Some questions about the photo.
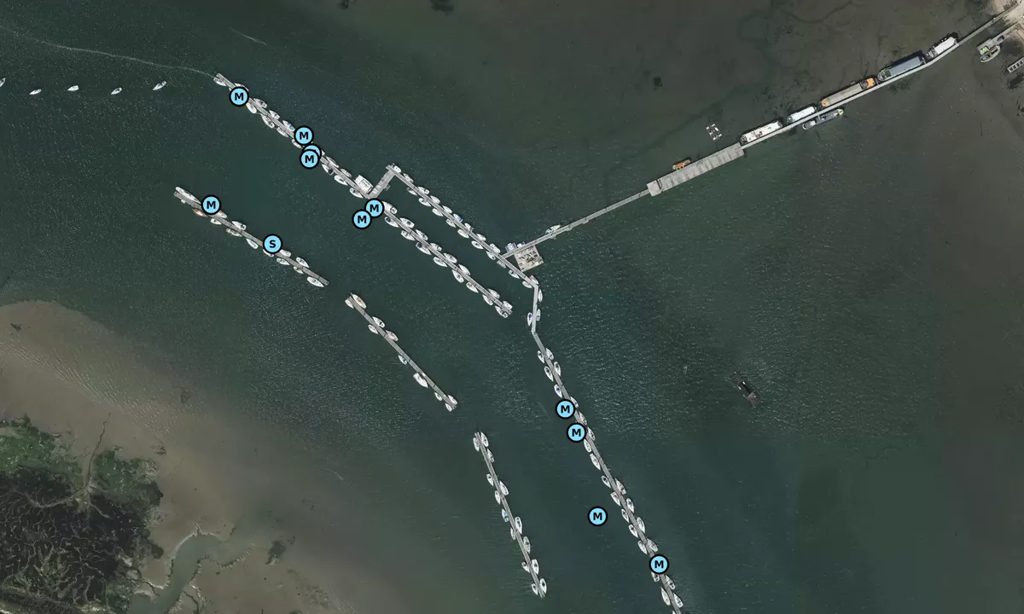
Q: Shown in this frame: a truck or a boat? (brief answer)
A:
boat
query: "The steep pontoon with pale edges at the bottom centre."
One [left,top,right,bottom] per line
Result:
[475,433,545,598]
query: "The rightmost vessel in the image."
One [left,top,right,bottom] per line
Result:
[980,46,1001,62]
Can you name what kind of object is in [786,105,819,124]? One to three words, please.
boat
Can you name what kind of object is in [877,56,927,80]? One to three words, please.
boat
